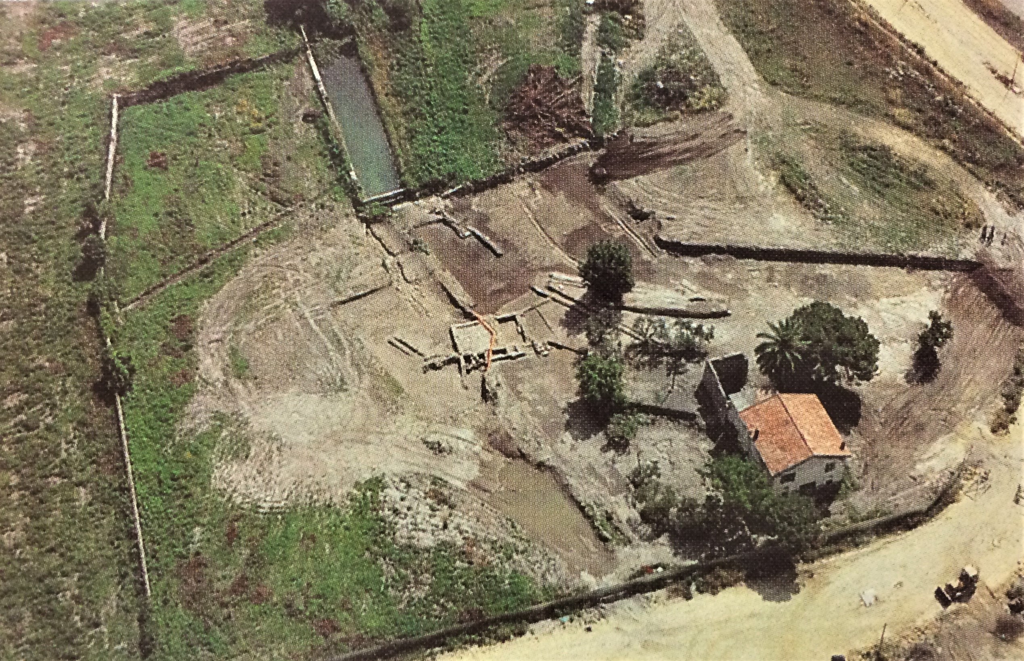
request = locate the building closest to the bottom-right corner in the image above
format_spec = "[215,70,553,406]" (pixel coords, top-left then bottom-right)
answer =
[716,393,852,496]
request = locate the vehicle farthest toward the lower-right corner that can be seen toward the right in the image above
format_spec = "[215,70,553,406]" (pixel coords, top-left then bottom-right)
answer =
[938,568,984,606]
